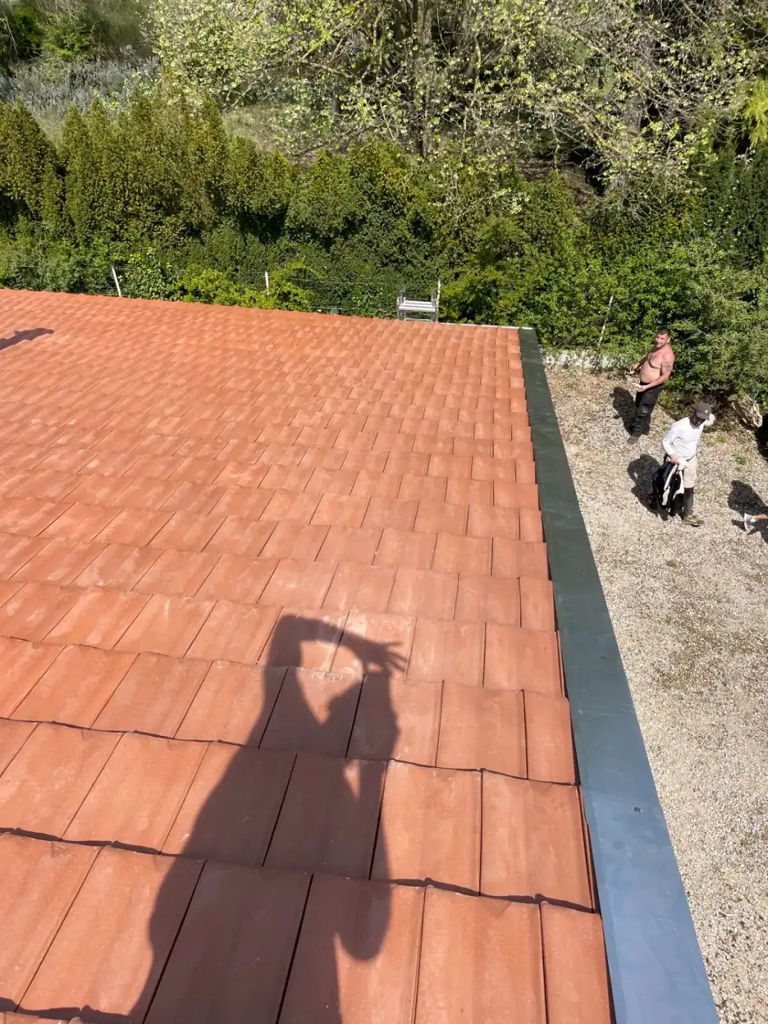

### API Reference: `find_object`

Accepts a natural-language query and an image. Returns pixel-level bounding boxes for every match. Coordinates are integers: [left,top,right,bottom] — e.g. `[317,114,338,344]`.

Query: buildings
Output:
[0,297,715,1024]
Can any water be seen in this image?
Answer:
No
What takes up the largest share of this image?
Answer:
buildings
